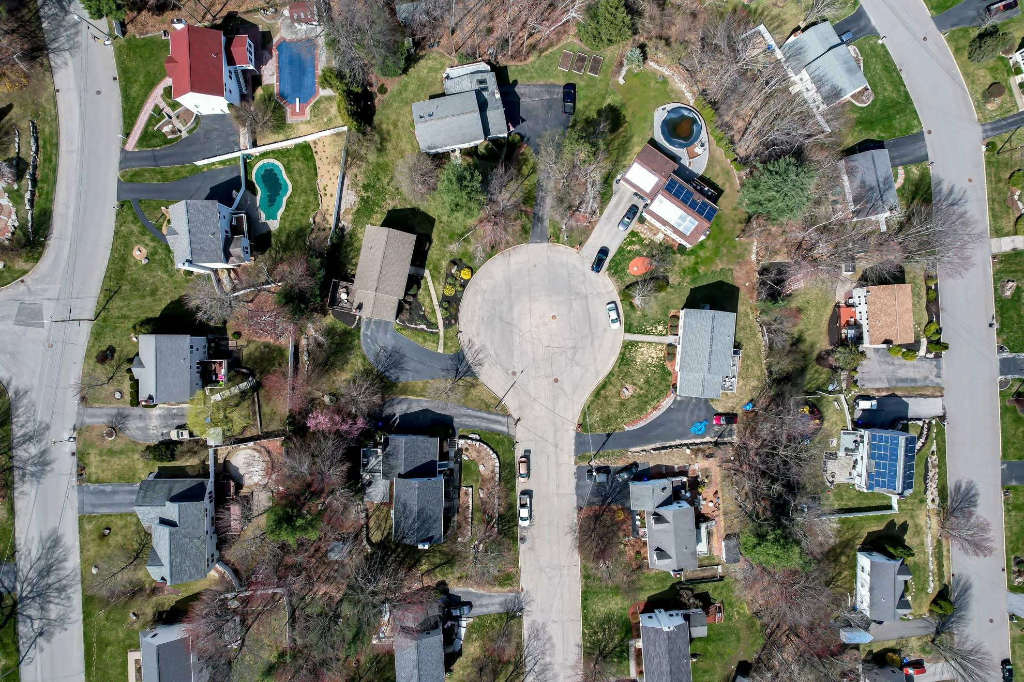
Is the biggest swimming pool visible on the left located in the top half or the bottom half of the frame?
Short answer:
top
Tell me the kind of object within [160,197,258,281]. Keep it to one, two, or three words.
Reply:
house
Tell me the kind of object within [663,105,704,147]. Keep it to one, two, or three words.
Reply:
swimming pool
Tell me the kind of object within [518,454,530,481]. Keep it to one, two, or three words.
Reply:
vehicle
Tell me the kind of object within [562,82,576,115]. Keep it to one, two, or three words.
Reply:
vehicle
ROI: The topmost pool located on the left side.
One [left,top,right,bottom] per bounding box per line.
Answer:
[273,35,321,119]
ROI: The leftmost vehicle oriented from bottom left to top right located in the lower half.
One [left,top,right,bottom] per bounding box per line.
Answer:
[614,461,640,483]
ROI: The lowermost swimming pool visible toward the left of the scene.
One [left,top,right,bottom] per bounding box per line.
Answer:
[252,158,292,223]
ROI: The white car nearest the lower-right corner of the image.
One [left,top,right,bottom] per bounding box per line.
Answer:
[851,397,879,410]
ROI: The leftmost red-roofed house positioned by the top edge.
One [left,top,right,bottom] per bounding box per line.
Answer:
[162,17,262,111]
